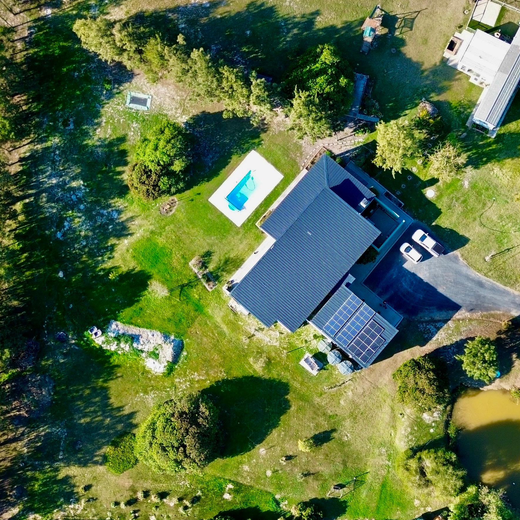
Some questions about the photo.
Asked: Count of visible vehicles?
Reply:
2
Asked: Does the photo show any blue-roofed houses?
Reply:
Yes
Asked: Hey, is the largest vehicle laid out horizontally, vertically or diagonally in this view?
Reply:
diagonally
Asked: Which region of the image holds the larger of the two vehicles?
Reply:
right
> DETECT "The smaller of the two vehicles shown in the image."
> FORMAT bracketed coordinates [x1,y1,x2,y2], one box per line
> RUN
[398,241,424,266]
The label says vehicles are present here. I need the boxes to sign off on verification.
[412,228,445,262]
[398,241,424,266]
